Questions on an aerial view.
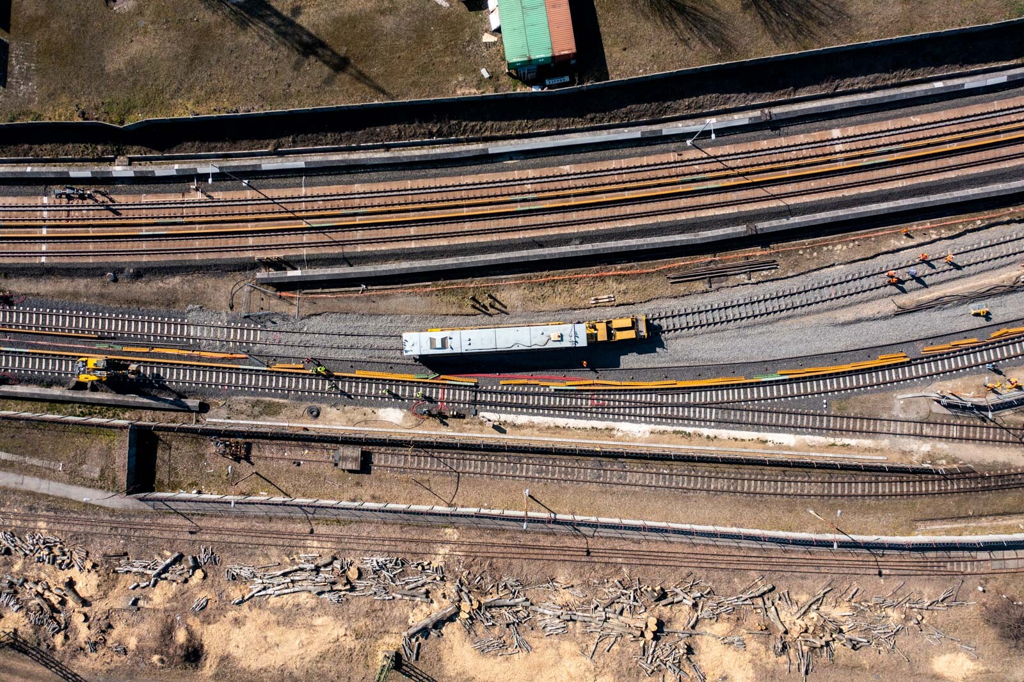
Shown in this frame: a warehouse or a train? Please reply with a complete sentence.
This aerial view contains a train.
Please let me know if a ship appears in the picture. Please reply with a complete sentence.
No, the frame has no ship in it.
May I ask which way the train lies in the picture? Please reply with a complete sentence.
In this picture, the train lies from side to side.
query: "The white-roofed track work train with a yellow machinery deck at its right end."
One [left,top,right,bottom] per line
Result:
[403,314,650,355]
